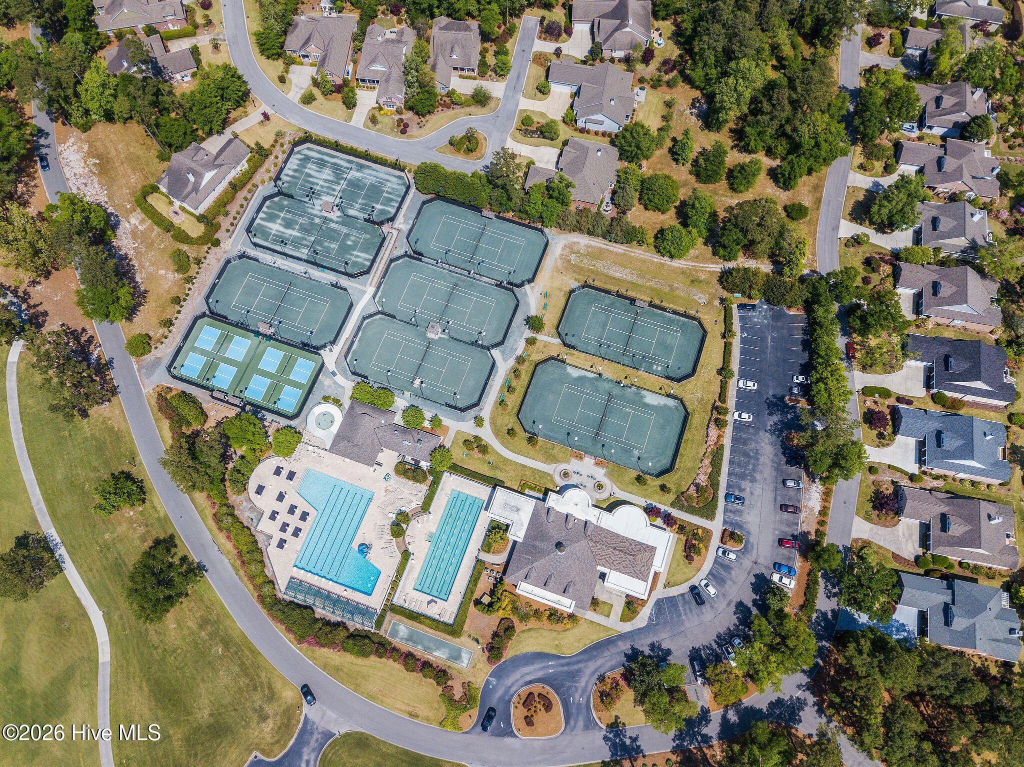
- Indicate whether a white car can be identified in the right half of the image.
Yes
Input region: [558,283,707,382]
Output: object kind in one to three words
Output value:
tennis court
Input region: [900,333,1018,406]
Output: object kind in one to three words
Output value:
house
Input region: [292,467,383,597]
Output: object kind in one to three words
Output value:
swimming pool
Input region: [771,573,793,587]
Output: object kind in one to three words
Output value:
car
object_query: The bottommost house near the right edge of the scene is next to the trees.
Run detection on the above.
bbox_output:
[895,573,1024,663]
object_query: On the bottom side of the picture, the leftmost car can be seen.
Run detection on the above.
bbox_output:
[299,684,316,707]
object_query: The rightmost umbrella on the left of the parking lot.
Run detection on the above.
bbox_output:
[422,598,440,617]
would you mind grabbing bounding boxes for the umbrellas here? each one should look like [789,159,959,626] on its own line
[279,521,290,533]
[272,464,283,475]
[422,598,440,617]
[253,483,264,495]
[291,526,302,538]
[285,469,296,480]
[298,510,309,522]
[275,490,286,502]
[275,537,287,550]
[268,509,279,521]
[286,503,297,515]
